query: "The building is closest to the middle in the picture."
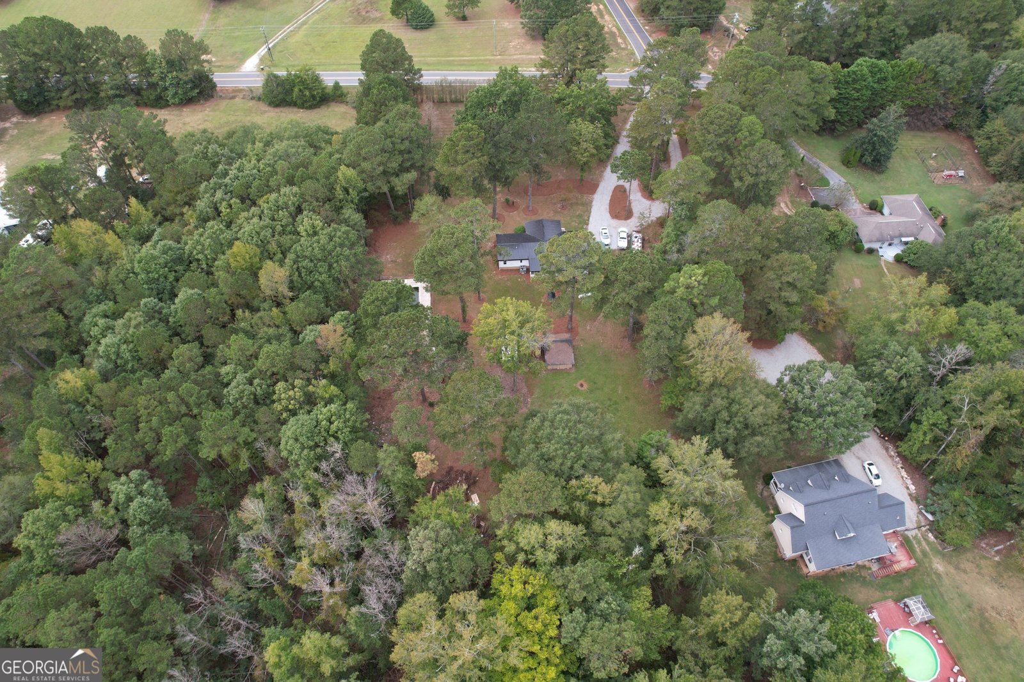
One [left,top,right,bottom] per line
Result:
[546,340,574,373]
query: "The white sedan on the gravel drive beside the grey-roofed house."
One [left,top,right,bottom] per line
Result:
[861,459,885,489]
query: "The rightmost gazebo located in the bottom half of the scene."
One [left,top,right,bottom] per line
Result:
[897,596,934,626]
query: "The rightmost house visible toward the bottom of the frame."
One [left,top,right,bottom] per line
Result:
[769,458,910,574]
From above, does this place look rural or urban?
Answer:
rural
